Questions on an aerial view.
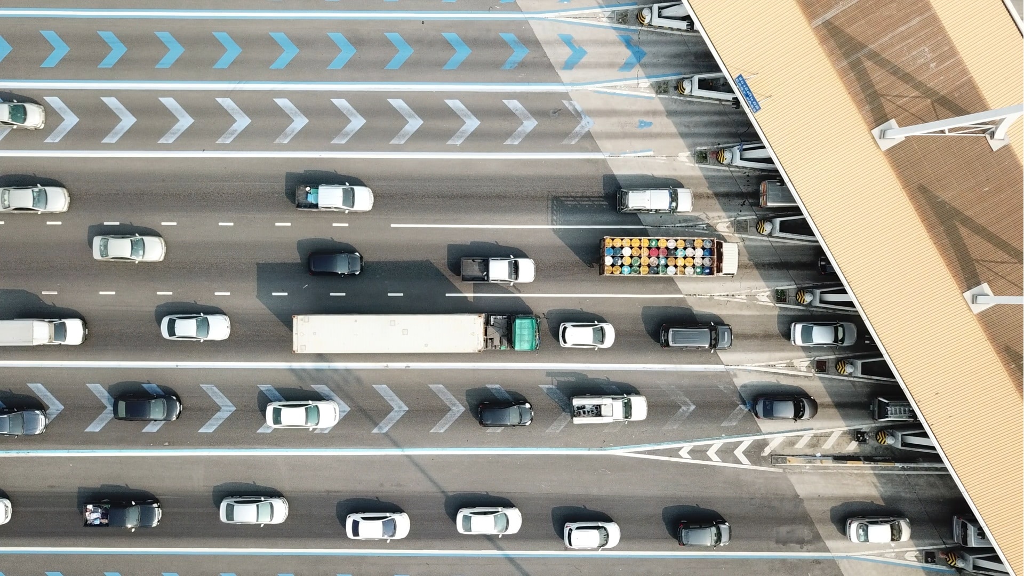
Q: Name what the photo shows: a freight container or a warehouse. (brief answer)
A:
freight container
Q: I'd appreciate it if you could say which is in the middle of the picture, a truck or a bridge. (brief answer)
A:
truck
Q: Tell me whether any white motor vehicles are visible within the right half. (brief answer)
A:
Yes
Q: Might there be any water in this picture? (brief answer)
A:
No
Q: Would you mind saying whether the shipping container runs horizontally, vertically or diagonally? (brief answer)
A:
horizontally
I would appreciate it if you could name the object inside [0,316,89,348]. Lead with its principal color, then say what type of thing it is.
white truck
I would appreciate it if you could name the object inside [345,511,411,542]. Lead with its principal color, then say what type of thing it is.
white car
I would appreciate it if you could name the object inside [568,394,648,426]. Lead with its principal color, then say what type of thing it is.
white truck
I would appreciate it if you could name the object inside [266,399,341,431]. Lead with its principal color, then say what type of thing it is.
white car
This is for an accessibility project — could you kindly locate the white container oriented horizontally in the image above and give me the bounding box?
[293,313,485,353]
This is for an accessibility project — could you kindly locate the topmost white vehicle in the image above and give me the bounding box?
[0,99,48,131]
